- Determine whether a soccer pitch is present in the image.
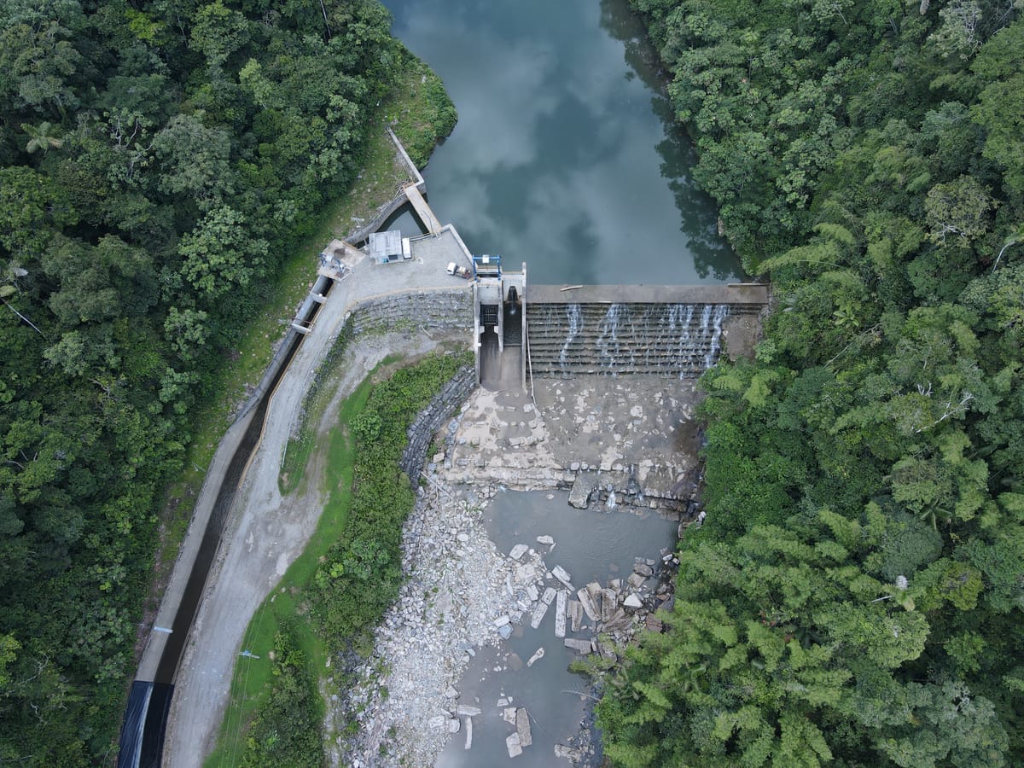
No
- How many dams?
1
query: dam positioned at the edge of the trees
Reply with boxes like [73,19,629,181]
[526,284,771,375]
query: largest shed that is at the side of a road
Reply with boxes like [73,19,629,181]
[369,229,405,269]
